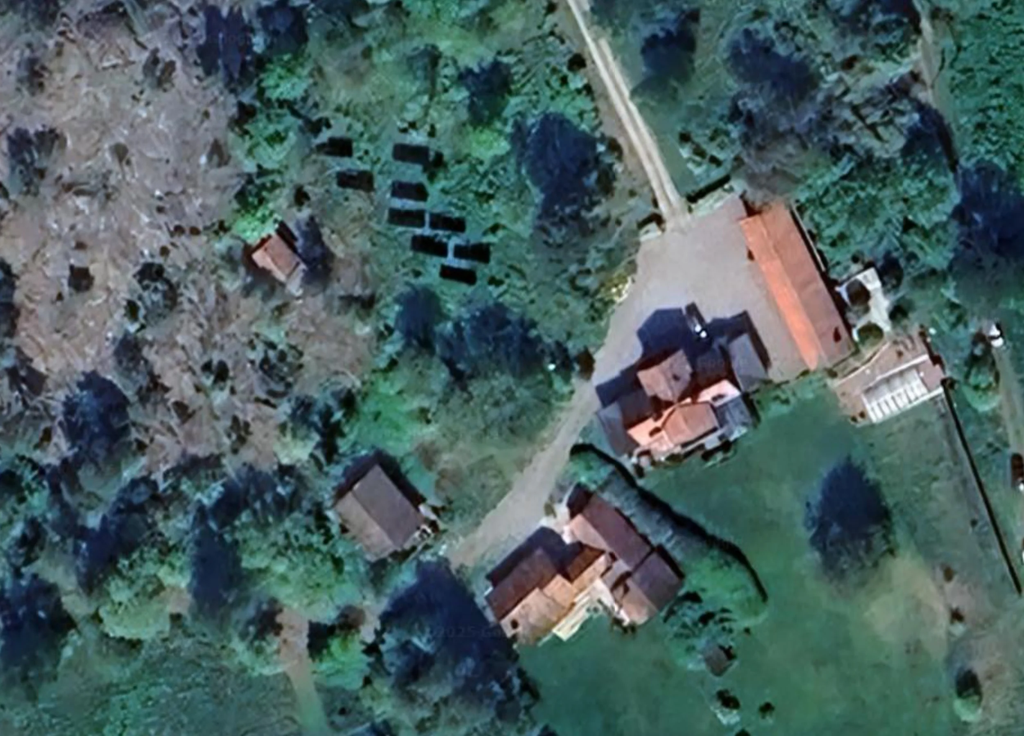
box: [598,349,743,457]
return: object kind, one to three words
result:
house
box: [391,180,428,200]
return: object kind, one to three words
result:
solar array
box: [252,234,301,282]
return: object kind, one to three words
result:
shed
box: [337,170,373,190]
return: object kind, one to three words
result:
solar array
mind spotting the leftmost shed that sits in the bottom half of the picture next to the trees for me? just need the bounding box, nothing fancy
[333,464,424,563]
